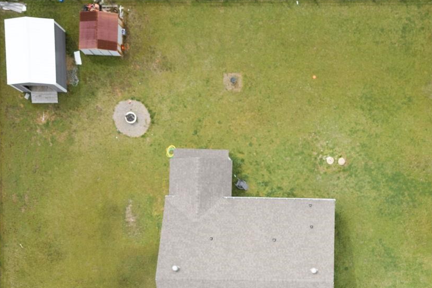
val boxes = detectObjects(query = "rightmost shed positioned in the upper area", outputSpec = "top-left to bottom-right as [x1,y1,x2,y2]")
[79,11,123,57]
